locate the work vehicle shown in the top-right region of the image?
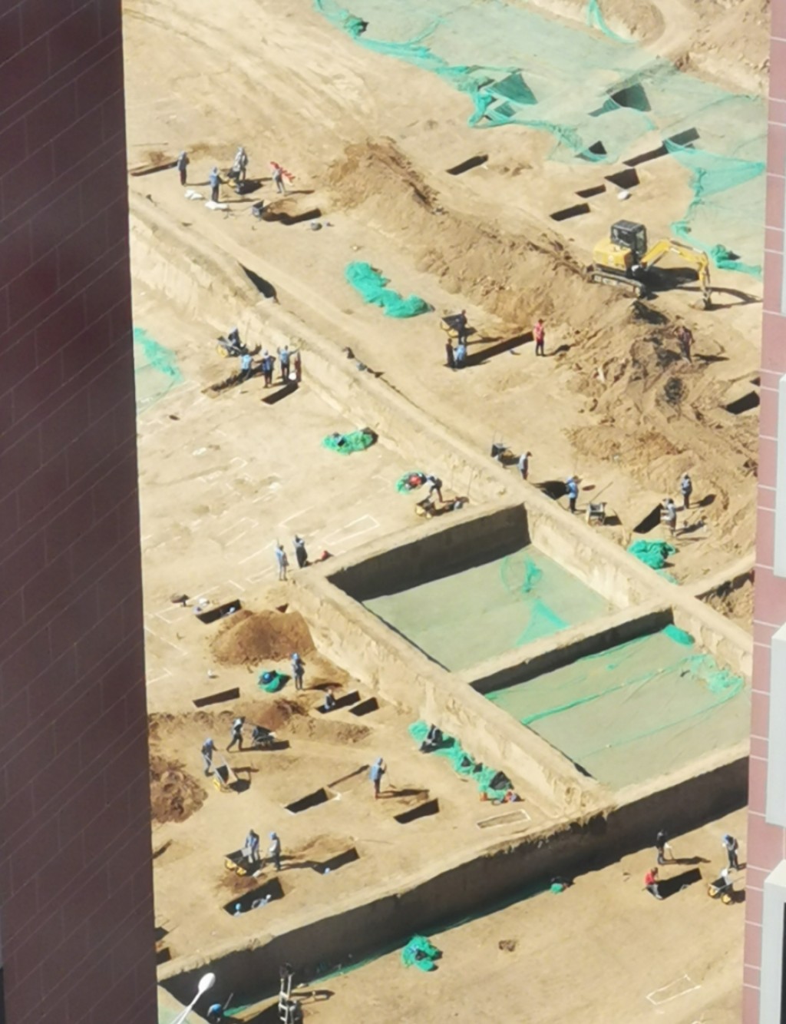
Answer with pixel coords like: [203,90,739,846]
[590,218,719,300]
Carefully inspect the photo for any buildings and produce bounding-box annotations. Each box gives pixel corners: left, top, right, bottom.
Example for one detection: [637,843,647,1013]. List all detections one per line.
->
[742,0,786,1024]
[0,0,157,1024]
